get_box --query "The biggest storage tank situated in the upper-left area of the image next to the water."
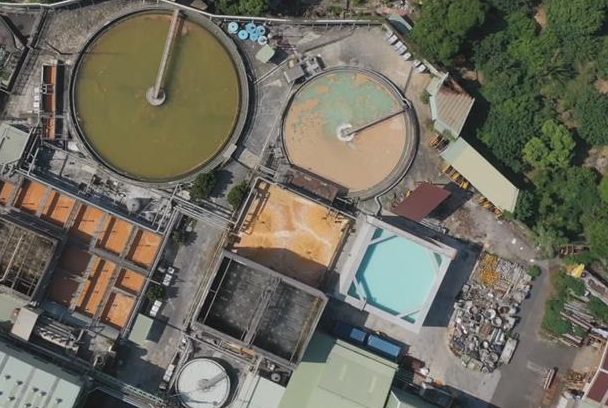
[70,5,249,185]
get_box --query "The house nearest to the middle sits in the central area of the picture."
[284,168,338,202]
